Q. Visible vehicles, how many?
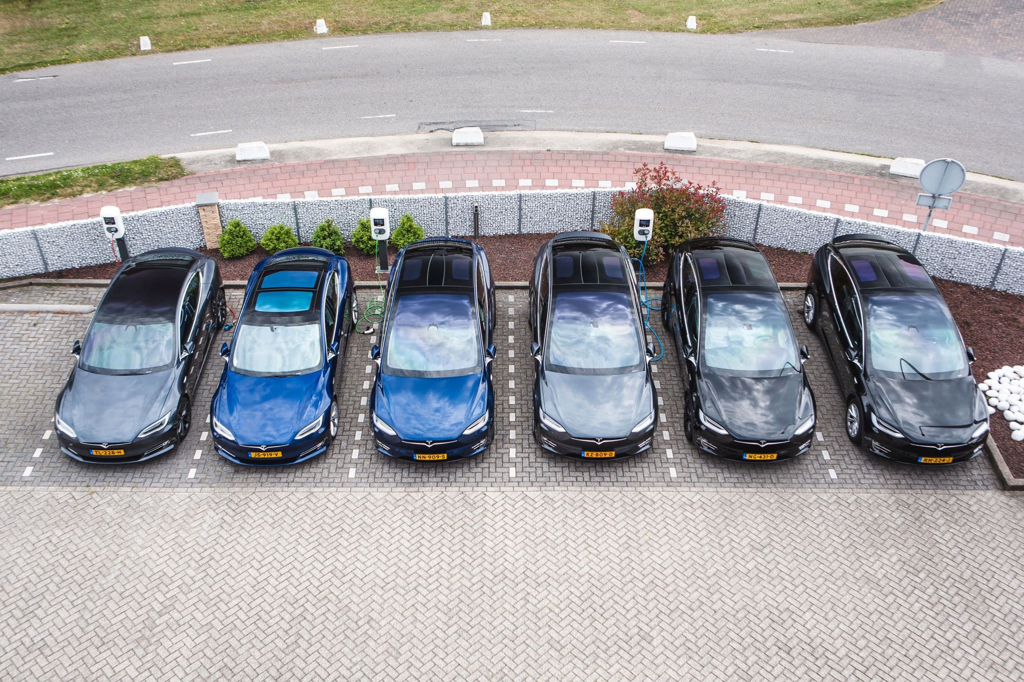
6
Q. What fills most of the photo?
paved ground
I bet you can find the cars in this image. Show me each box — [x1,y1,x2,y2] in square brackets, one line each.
[806,232,983,466]
[529,227,659,462]
[56,245,227,467]
[664,236,814,464]
[368,235,499,465]
[213,246,358,468]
